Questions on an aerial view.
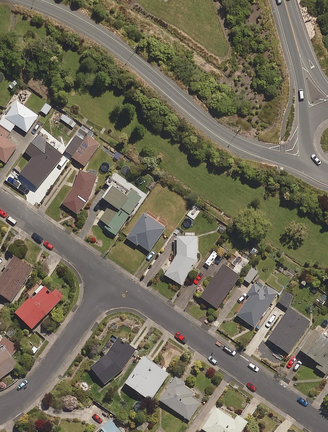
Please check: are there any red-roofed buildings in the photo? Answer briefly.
Yes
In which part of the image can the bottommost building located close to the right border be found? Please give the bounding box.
[300,329,328,376]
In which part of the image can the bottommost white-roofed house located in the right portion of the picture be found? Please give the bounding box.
[202,408,246,432]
